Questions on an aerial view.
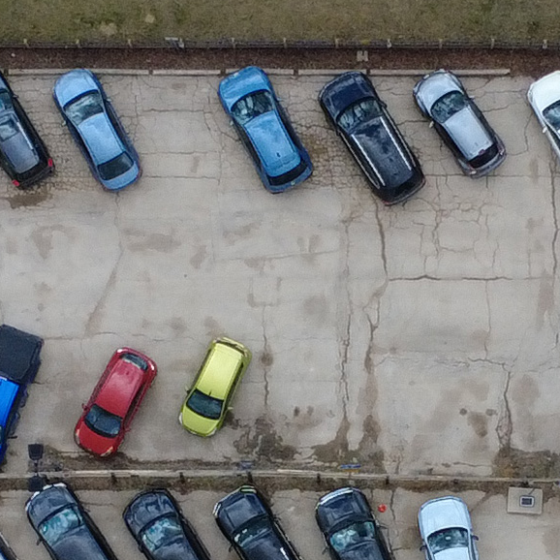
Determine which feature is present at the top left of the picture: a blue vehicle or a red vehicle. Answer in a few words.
blue vehicle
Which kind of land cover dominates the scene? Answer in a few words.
paved ground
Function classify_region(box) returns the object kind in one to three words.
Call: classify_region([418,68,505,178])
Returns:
car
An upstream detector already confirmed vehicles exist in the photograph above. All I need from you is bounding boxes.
[212,485,302,560]
[220,67,311,195]
[418,495,482,560]
[0,66,57,191]
[418,68,505,178]
[76,348,159,455]
[0,324,48,469]
[315,488,396,560]
[55,67,144,195]
[177,337,251,436]
[530,69,560,161]
[124,488,214,560]
[320,69,425,209]
[26,484,122,560]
